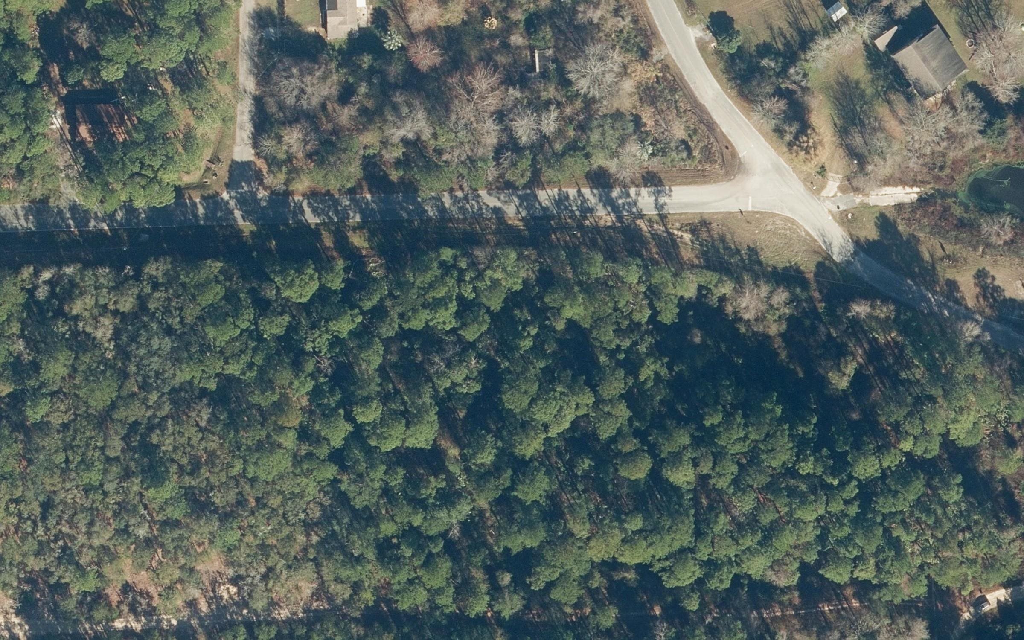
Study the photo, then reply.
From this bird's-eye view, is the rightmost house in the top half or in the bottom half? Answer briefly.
top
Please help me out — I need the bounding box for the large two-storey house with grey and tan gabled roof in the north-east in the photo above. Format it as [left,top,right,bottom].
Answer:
[875,24,967,99]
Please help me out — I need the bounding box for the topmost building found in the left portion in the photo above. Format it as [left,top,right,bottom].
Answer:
[326,0,366,38]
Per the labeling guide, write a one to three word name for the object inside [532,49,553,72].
shed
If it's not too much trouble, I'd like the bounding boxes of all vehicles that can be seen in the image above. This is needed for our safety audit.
[977,594,994,615]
